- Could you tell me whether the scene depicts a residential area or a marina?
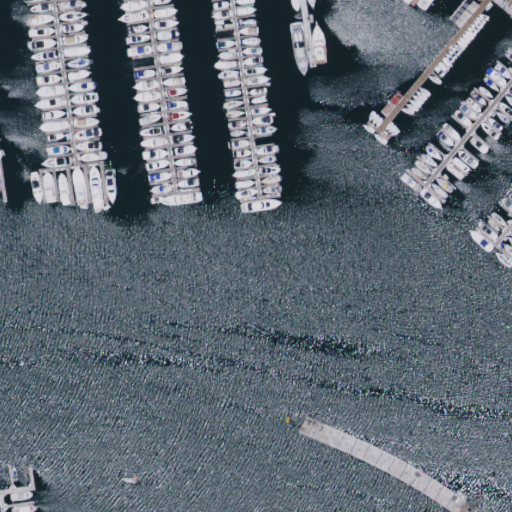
marina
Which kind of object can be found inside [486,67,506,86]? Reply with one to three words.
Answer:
boat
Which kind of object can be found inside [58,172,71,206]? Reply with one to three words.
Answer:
boat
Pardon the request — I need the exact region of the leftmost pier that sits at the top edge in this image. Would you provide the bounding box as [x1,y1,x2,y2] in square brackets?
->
[30,0,108,204]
